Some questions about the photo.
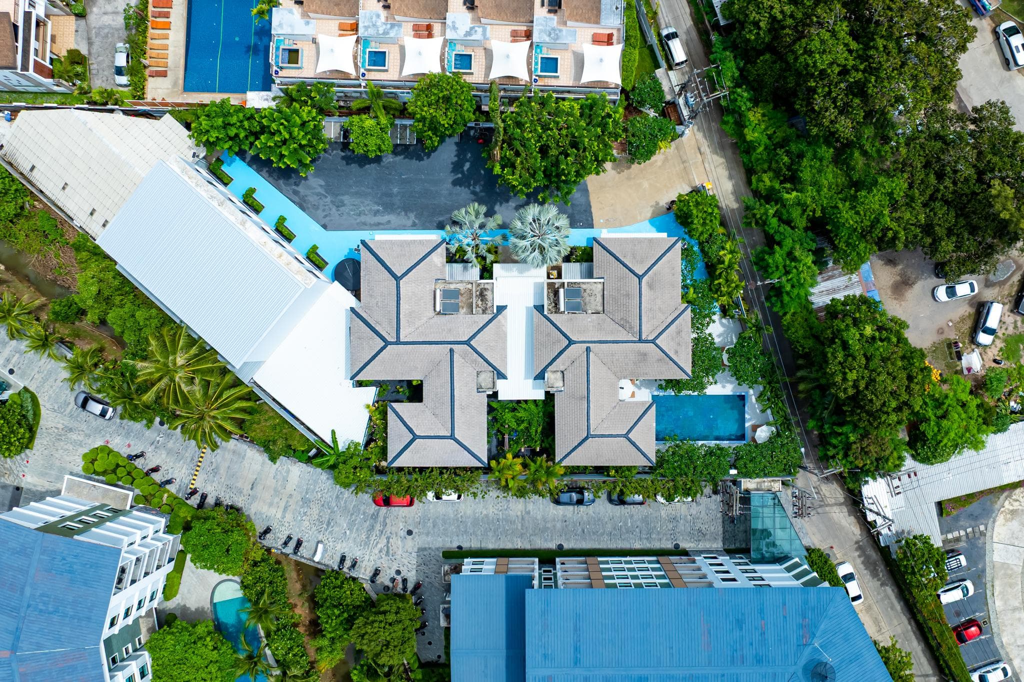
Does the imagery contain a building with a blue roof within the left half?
Yes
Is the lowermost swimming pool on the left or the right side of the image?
left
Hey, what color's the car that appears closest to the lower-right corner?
white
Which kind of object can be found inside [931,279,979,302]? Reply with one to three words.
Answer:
car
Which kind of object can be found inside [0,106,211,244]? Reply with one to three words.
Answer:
warehouse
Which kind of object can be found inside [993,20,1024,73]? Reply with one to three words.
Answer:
car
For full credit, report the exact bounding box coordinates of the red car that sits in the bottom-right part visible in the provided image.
[949,618,987,647]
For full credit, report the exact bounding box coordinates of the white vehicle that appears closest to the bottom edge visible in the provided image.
[966,659,1013,682]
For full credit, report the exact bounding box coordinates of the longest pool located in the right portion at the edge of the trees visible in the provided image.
[649,392,747,444]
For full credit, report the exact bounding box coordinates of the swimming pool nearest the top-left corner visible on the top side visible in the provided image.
[180,0,274,95]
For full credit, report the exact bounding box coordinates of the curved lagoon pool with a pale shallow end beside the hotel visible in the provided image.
[210,577,278,682]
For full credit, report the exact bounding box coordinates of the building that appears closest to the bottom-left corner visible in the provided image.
[0,481,181,682]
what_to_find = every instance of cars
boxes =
[966,659,1013,682]
[659,26,689,71]
[74,392,116,420]
[930,549,969,577]
[111,43,134,88]
[993,20,1024,73]
[972,300,1006,347]
[939,577,975,606]
[655,489,695,509]
[608,488,646,508]
[931,279,979,302]
[835,561,864,606]
[553,487,595,507]
[374,490,415,509]
[426,487,464,506]
[949,618,987,647]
